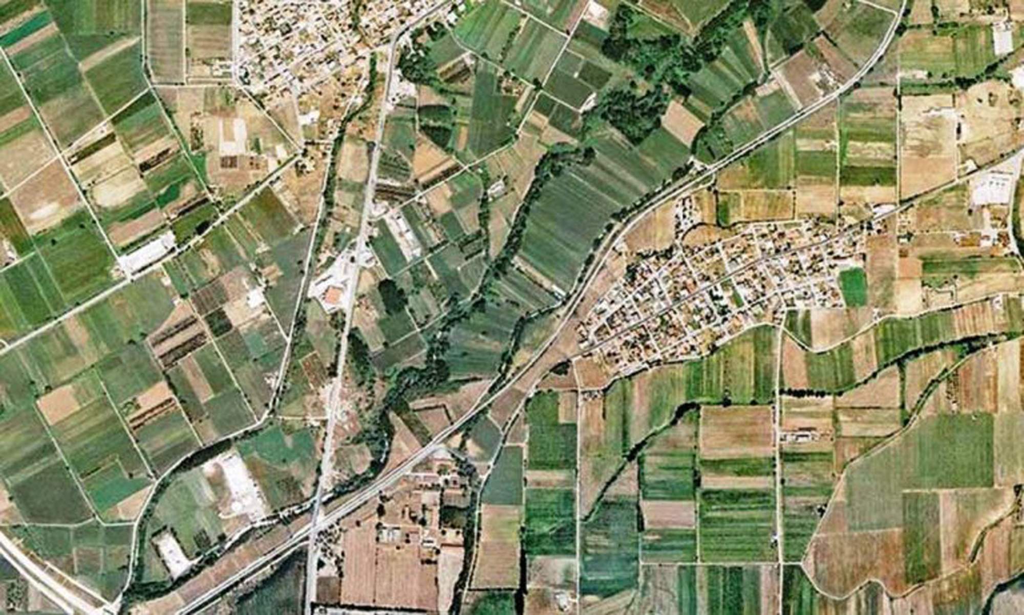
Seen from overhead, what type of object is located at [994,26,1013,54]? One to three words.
building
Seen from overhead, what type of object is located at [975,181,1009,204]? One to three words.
building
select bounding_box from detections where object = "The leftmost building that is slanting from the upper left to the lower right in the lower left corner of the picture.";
[159,537,189,574]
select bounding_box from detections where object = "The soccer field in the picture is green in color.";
[841,269,867,307]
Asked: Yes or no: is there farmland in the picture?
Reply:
Yes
